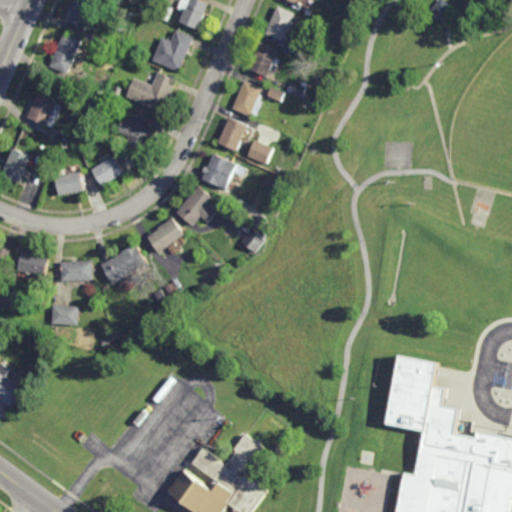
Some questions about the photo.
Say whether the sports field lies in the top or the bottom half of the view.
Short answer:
top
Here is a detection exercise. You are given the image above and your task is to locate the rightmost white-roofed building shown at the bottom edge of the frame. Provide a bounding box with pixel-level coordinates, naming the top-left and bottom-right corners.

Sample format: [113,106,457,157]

[384,354,512,512]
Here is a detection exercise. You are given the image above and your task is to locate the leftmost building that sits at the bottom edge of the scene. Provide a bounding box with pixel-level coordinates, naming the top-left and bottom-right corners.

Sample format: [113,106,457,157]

[168,433,270,512]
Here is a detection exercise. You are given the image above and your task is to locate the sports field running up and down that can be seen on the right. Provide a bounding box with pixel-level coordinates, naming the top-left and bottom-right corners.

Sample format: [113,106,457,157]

[448,33,512,192]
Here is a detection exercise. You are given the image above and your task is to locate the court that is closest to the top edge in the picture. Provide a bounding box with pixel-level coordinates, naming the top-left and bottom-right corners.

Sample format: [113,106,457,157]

[384,142,412,169]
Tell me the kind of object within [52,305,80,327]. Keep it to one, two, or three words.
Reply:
building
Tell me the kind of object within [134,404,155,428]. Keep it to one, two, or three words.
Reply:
truck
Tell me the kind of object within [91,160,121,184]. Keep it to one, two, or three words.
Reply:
house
